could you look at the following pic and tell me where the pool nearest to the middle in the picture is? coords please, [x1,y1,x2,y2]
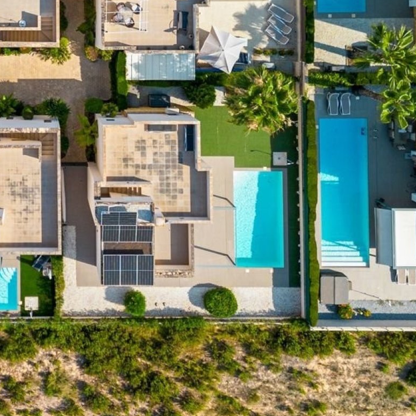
[233,170,285,269]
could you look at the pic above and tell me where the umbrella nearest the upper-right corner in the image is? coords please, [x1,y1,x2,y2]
[196,26,247,74]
